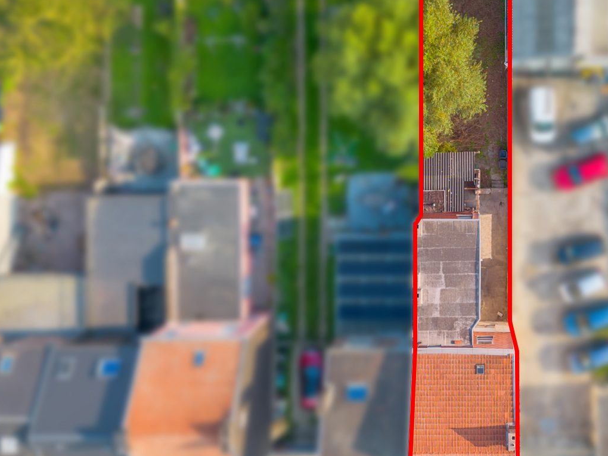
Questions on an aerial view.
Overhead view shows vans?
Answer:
Yes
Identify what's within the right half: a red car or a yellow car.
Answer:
red car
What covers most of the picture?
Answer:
buildings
